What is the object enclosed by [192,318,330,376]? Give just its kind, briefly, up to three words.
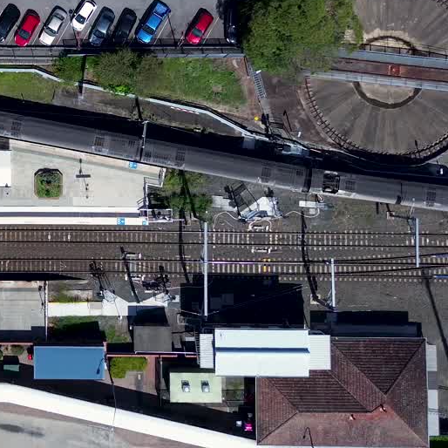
building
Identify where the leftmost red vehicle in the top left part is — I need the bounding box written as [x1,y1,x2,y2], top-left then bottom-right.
[15,10,39,45]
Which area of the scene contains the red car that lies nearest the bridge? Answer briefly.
top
